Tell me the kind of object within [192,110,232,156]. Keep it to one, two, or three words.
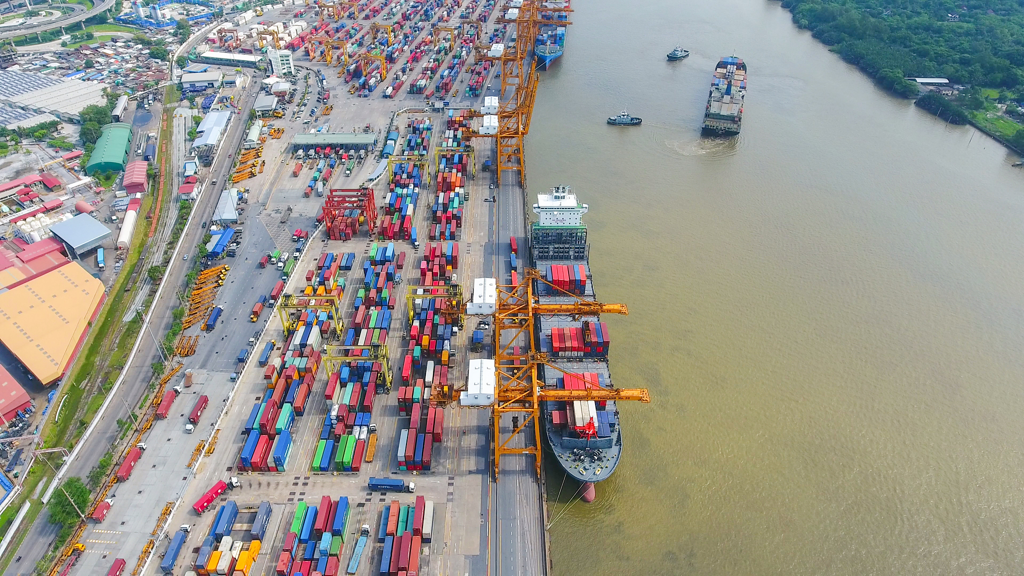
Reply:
building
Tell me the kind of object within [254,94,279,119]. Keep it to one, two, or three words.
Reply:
house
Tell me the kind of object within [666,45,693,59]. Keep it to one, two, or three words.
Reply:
boat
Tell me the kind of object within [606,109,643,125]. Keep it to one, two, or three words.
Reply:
boat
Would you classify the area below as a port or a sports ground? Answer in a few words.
port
